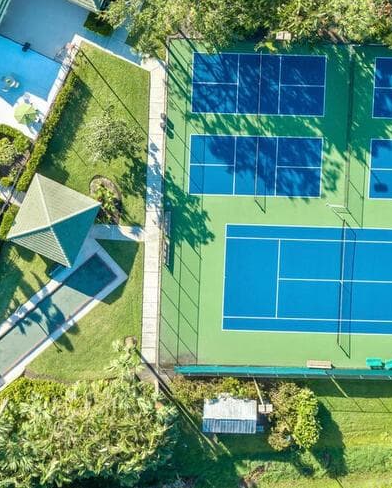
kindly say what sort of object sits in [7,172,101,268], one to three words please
building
